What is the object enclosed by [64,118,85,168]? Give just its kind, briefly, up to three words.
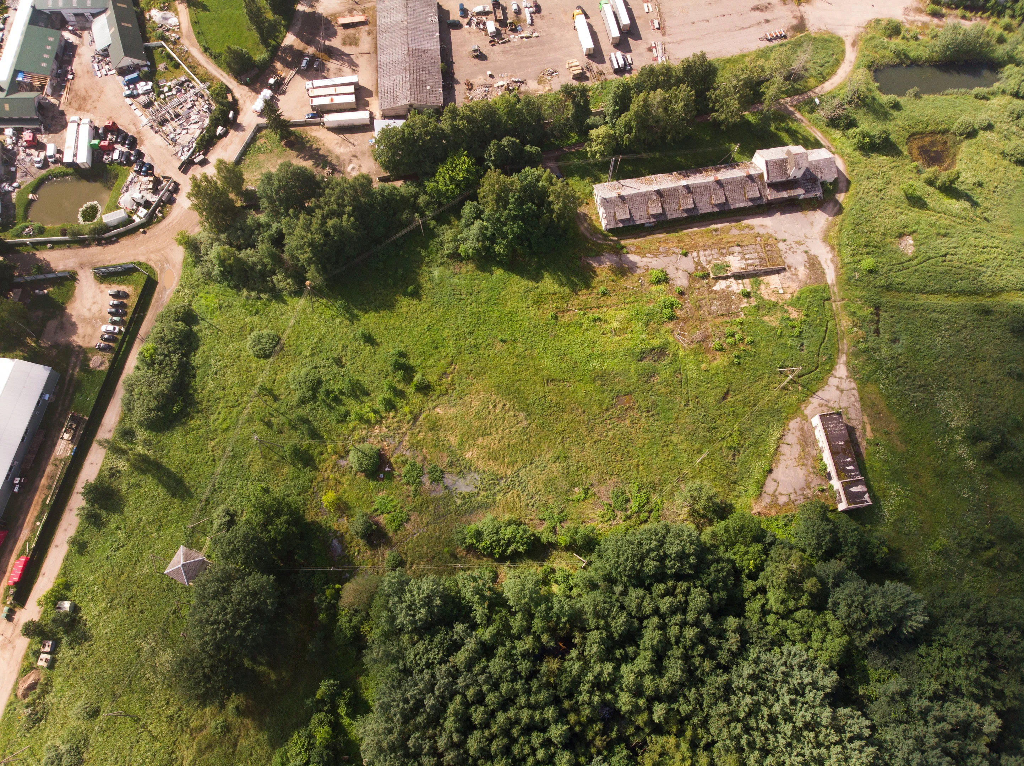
truck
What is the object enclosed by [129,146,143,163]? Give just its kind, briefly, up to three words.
car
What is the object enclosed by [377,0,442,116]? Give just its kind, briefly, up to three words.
barn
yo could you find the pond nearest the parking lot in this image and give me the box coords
[29,176,112,227]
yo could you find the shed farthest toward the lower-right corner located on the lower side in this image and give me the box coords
[812,411,873,510]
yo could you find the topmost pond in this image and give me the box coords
[872,61,997,99]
